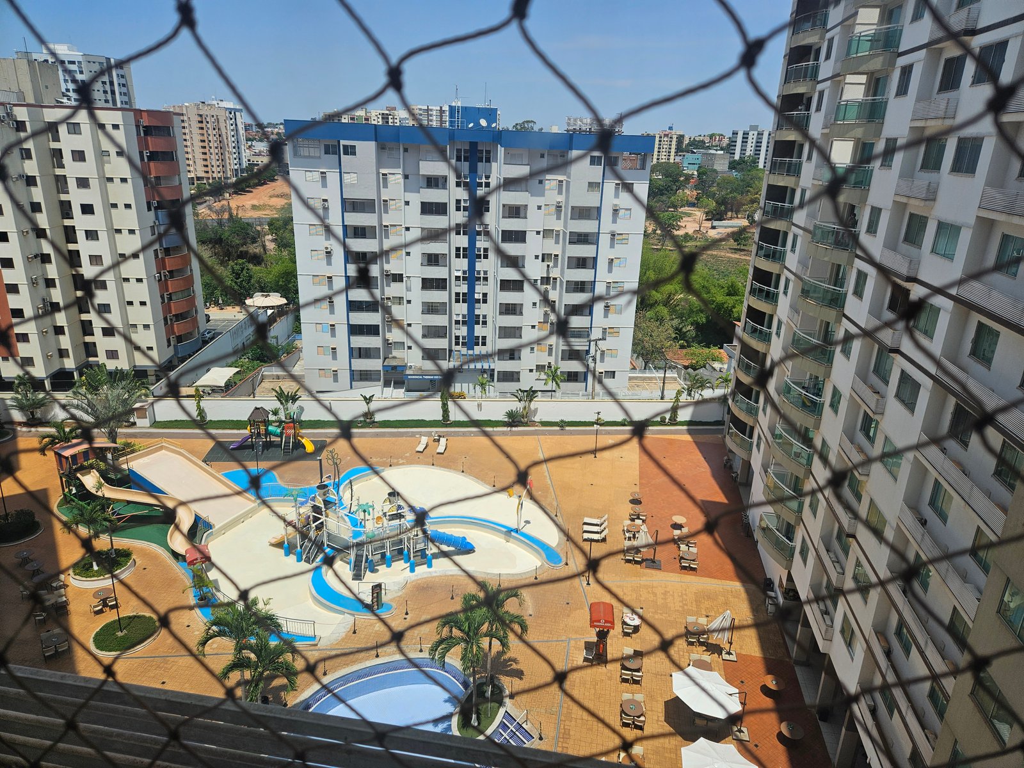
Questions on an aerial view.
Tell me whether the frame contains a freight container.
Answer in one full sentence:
No, the frame has no freight container in it.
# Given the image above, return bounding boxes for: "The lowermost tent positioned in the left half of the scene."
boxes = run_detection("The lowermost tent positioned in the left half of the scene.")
[191,369,246,395]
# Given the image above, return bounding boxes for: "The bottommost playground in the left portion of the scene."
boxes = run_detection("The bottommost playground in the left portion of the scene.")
[260,472,482,592]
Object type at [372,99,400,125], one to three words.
building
